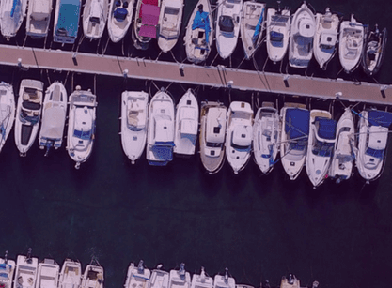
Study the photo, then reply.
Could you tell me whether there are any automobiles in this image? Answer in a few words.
No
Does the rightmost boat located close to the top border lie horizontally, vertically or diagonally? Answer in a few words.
vertically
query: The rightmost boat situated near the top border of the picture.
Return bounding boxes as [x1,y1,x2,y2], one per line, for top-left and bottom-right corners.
[361,10,386,81]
